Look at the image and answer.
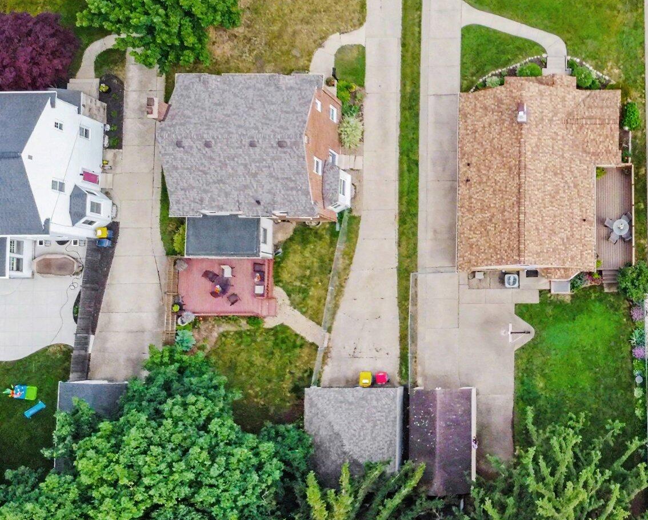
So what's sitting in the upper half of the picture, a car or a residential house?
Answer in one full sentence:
You can see a residential house in the upper half of the picture.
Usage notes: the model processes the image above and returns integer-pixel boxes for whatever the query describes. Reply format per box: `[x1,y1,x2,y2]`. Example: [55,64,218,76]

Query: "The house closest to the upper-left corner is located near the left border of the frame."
[0,90,114,280]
